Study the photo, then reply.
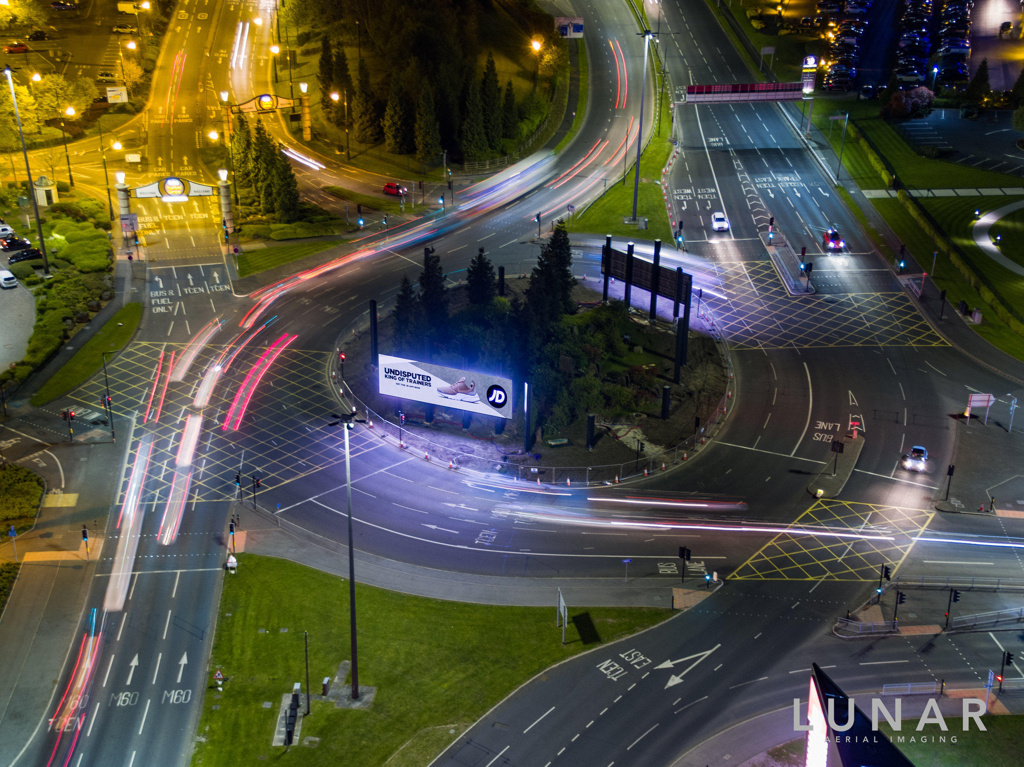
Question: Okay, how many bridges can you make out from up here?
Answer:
1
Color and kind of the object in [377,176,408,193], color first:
red car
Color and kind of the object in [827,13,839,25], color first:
black vehicle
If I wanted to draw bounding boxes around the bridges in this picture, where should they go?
[667,81,817,139]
